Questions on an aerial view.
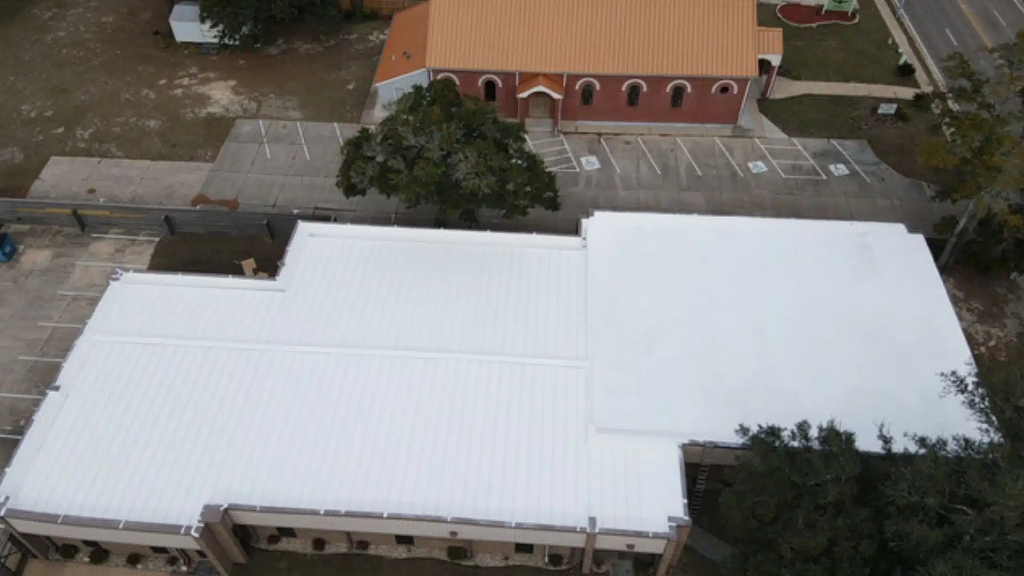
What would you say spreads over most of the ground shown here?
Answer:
buildings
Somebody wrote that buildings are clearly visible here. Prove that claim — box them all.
[371,0,783,133]
[168,4,248,44]
[0,207,1019,565]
